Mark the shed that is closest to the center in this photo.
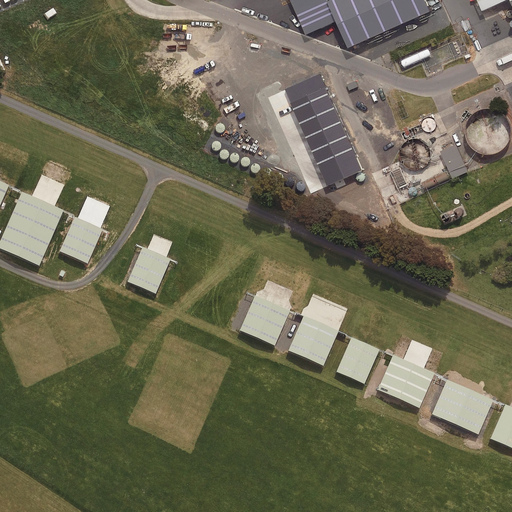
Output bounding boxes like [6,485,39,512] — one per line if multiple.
[240,296,290,345]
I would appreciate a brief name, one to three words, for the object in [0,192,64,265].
shed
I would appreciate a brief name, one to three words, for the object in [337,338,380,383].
shed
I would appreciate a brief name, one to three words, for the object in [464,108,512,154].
storage tank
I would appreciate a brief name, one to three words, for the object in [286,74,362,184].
building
